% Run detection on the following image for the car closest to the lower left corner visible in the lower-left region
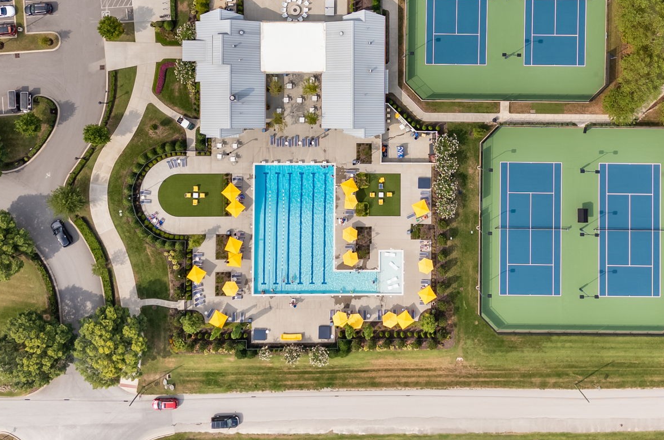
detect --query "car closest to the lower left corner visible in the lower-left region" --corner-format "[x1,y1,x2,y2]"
[153,396,179,411]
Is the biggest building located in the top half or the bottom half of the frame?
top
